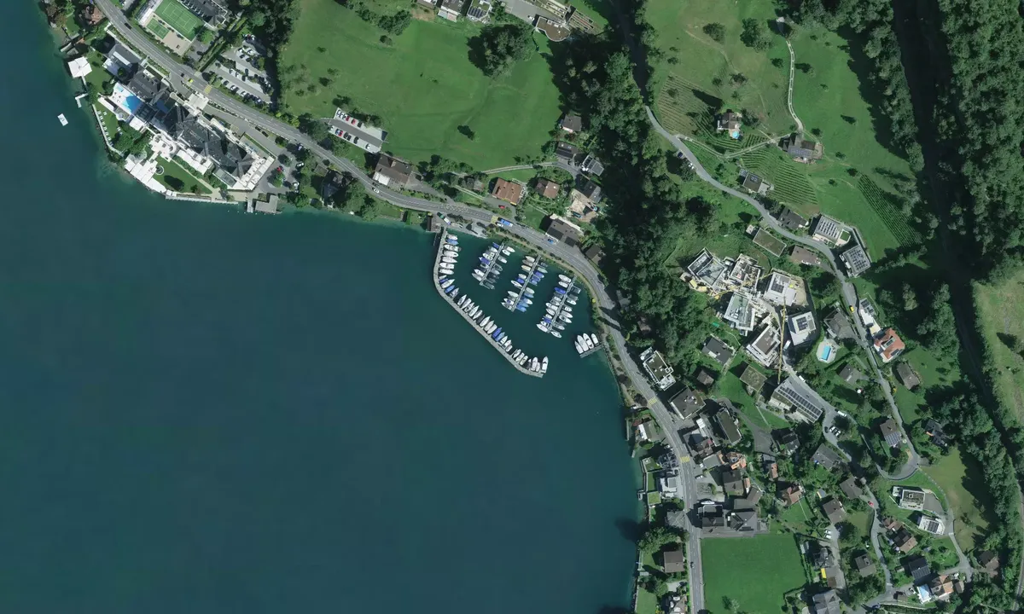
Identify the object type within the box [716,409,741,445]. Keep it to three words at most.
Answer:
building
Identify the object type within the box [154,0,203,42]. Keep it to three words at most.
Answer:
tennis court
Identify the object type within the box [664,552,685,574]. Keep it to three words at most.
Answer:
house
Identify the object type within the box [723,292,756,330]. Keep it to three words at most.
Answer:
building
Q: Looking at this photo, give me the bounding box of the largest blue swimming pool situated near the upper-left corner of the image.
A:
[122,94,144,113]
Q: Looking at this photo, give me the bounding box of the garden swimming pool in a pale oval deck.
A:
[816,340,837,363]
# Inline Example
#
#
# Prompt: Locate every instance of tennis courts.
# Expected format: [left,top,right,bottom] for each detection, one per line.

[154,0,203,42]
[147,18,169,39]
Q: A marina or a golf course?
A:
marina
